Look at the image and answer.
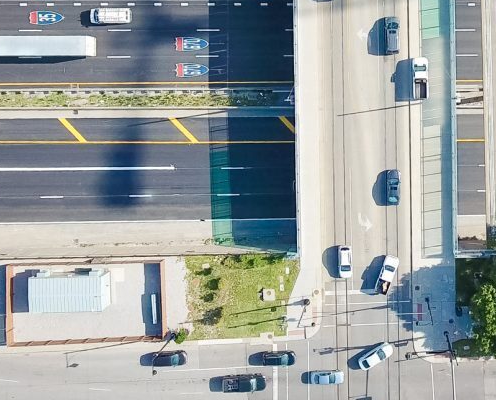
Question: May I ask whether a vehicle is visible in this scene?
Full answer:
Yes, the frame does contain a vehicle.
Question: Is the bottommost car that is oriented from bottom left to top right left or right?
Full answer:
The bottommost car that is oriented from bottom left to top right is on the right side of the image.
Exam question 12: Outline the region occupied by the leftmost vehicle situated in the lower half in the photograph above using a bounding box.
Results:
[151,349,188,367]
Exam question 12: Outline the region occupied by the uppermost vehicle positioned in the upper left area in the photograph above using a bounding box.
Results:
[91,6,133,25]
